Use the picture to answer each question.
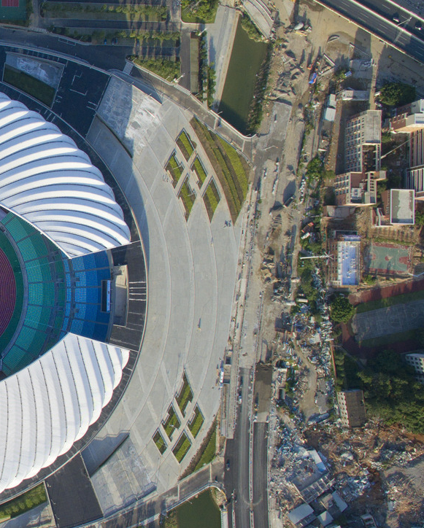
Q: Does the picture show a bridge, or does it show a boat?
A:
bridge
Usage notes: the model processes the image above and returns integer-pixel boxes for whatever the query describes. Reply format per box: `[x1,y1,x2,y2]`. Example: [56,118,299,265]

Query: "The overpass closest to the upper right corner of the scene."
[310,0,424,68]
